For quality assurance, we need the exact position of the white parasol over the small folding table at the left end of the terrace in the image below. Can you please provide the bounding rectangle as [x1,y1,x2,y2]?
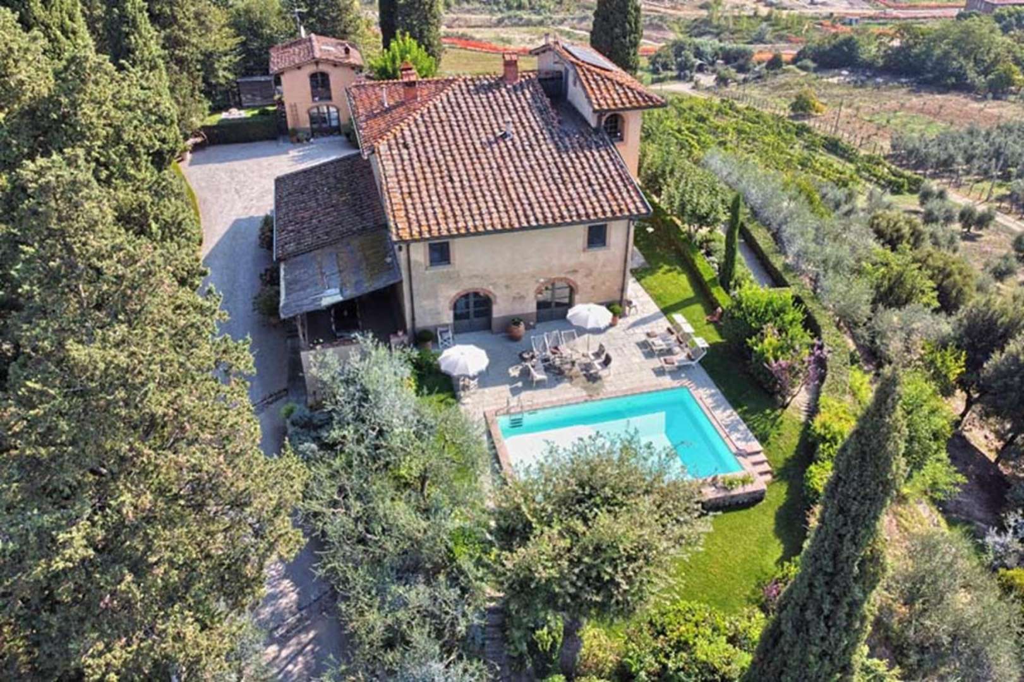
[437,340,492,381]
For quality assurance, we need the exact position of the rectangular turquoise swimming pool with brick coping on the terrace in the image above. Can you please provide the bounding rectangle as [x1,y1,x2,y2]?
[483,378,783,540]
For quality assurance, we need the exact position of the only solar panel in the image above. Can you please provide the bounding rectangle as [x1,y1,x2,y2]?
[558,34,618,65]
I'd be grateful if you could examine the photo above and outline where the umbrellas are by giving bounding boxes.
[564,300,616,352]
[437,340,492,381]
